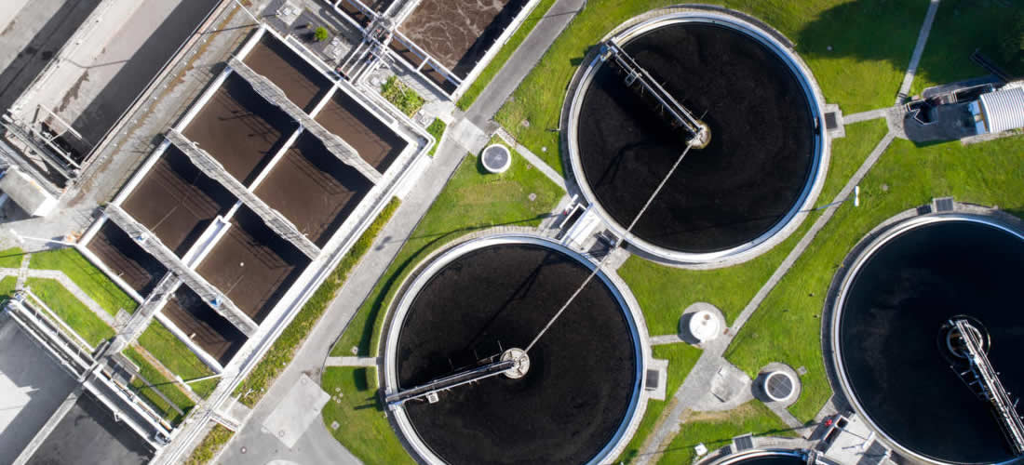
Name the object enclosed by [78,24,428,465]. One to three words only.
storage tank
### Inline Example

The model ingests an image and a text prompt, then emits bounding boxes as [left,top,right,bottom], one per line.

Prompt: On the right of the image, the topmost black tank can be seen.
[569,9,825,266]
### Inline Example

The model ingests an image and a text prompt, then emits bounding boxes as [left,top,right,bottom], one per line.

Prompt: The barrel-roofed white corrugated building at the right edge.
[968,86,1024,137]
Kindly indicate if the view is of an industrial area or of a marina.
industrial area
